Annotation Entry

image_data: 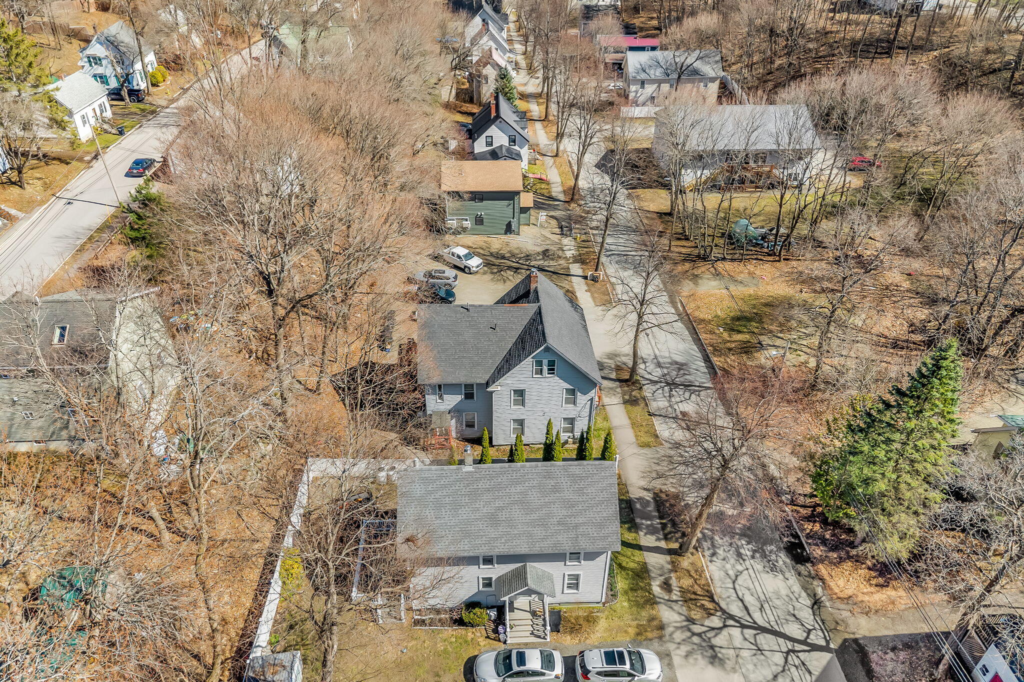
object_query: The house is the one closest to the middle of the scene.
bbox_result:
[412,259,604,455]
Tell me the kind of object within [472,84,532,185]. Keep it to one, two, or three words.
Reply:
house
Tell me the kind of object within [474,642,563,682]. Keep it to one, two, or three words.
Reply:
car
